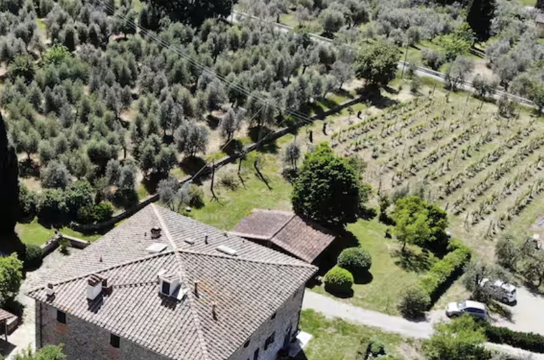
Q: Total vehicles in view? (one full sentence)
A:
The number of vehicles here is 2.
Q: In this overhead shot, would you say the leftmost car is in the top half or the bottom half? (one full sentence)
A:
The leftmost car is in the bottom half of the image.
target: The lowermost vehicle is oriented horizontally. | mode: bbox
[447,299,493,322]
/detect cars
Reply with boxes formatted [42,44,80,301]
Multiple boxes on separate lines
[479,280,523,304]
[447,299,493,322]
